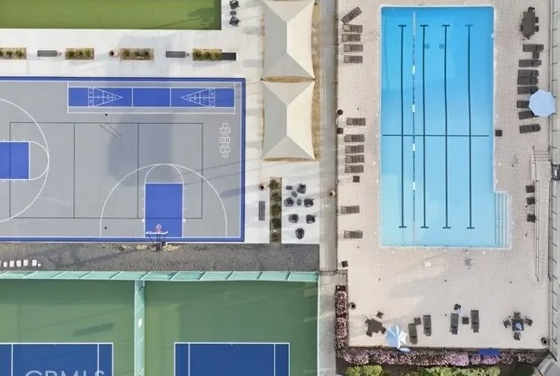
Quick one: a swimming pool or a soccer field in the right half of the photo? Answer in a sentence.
There is a swimming pool in the right half of the photo.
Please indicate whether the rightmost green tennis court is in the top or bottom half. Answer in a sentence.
Seen from above, the rightmost green tennis court lies in the bottom half of the view.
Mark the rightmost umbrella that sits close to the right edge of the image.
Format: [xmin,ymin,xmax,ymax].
[528,90,555,116]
